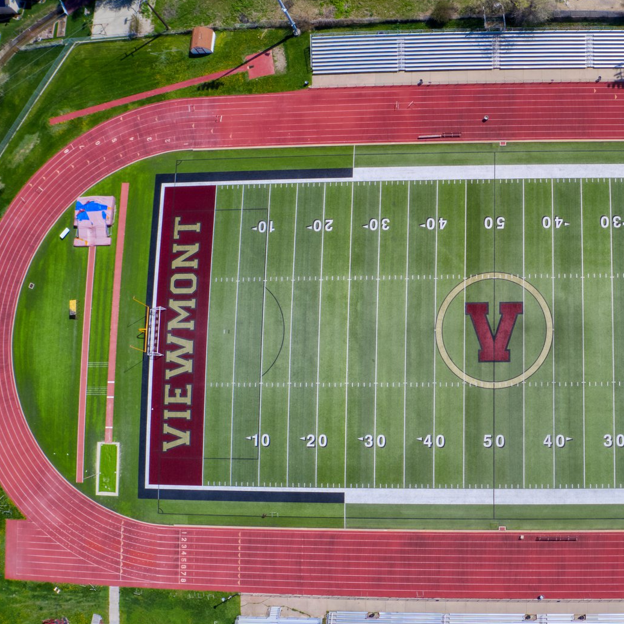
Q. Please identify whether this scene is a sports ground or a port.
sports ground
